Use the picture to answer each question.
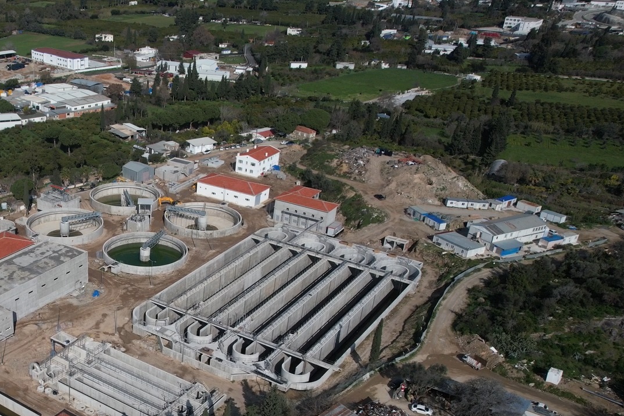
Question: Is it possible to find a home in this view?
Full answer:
Yes, there's a home here.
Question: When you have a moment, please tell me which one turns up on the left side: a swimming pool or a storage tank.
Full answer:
Visible on the left side is a storage tank.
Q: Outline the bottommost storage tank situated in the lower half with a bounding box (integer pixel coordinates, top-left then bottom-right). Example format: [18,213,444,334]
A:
[103,228,188,282]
